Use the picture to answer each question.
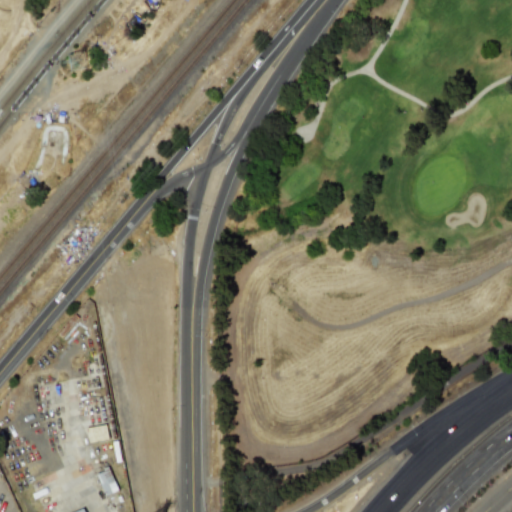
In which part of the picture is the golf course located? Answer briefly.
top right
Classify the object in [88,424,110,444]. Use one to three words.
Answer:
building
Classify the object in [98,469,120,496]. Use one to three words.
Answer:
shed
